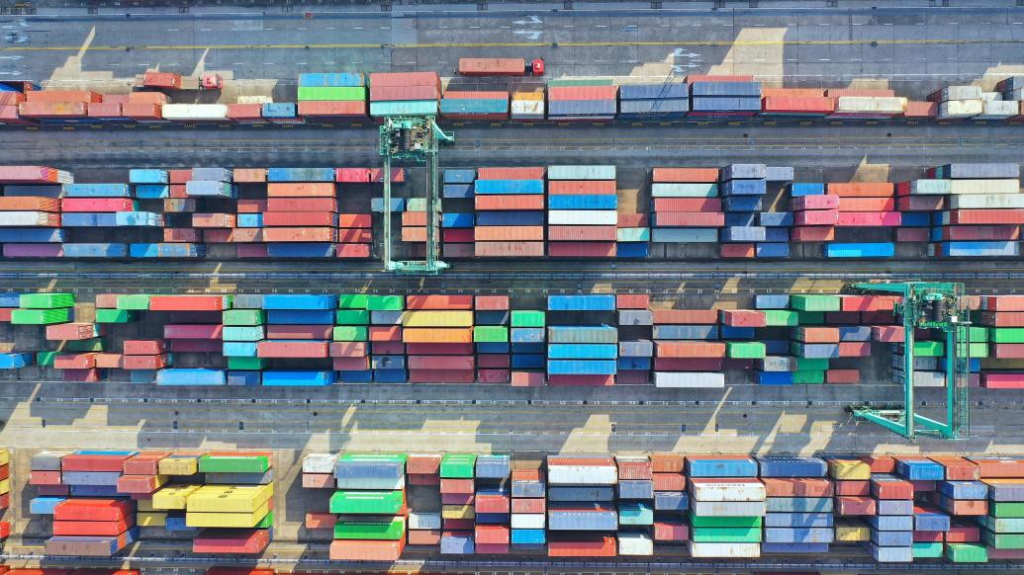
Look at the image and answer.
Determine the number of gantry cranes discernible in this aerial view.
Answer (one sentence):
The number of gantry cranes here is 2.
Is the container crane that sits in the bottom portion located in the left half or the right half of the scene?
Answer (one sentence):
It is on the right.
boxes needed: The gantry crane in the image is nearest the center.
[376,105,456,277]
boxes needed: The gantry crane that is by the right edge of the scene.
[836,277,974,443]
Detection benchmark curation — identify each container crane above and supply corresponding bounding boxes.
[836,277,974,443]
[376,105,456,277]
